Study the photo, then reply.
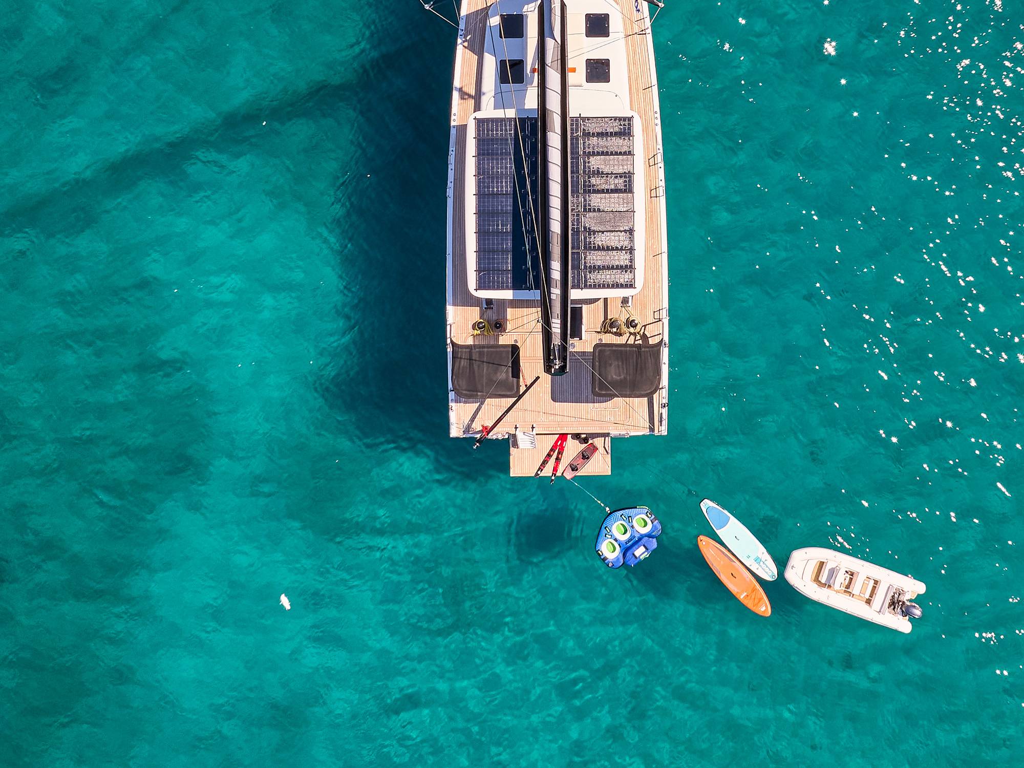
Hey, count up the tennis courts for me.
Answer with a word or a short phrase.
0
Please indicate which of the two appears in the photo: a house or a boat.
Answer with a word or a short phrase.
boat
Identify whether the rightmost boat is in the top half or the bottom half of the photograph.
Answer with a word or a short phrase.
bottom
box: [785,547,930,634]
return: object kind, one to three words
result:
boat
